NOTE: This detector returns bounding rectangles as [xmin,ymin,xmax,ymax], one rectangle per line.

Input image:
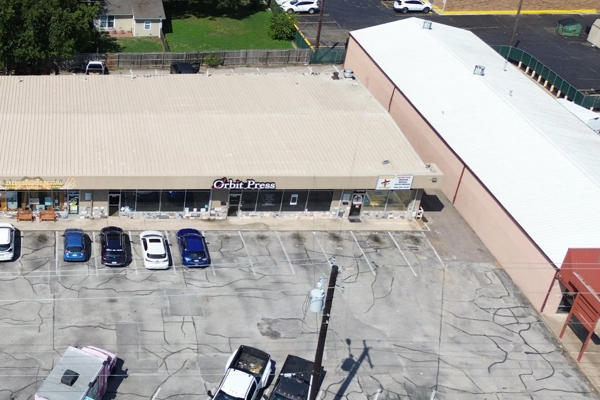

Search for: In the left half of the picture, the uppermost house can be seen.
[90,0,167,35]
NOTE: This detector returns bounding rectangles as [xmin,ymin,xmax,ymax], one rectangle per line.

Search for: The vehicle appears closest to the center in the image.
[177,223,210,265]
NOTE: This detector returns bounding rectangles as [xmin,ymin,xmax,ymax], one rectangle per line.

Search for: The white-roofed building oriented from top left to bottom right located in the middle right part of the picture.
[341,17,600,334]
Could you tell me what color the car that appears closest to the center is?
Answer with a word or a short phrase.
blue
